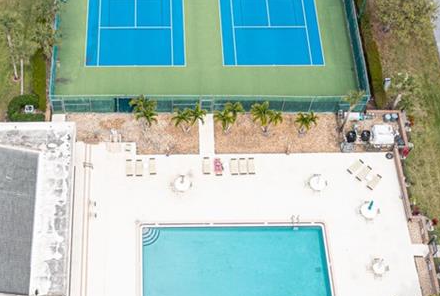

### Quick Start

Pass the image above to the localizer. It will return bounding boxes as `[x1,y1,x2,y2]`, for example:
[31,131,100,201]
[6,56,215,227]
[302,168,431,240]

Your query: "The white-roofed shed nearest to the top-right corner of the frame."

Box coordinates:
[371,126,398,147]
